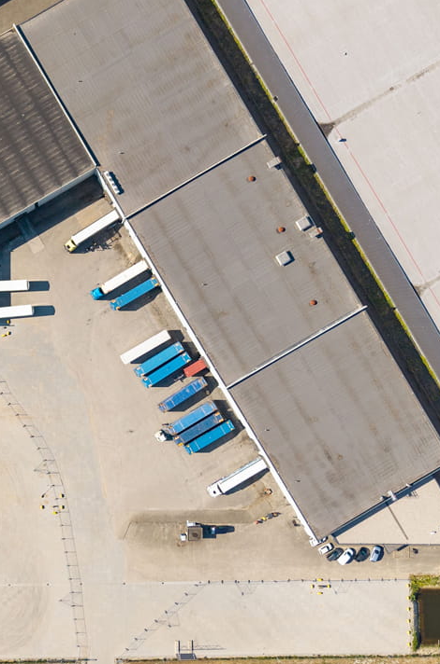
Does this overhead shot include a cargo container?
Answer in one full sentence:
Yes, looking at the shot, I can spot a cargo container.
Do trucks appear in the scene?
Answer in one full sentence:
Yes, there's a truck here.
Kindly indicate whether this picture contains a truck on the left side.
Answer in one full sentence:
Yes, the scene does show a truck on the left side.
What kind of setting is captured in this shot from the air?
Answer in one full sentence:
What you see here is an industrial area.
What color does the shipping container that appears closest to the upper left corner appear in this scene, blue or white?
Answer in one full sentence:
In this view, the shipping container that appears closest to the upper left corner is blue.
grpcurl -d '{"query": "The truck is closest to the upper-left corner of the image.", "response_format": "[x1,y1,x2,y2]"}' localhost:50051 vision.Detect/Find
[61,209,119,253]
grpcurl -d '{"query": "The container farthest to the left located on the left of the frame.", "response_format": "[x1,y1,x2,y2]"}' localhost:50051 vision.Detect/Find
[111,277,158,310]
